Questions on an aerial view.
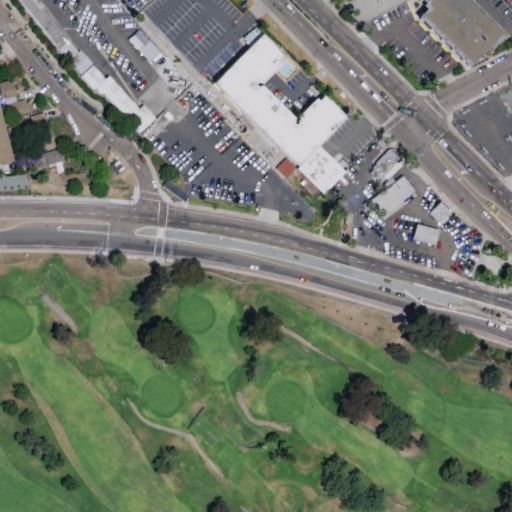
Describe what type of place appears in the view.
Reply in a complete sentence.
The picture captures a golf course.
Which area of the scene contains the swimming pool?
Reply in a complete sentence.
The swimming pool appears toward the top of the photo.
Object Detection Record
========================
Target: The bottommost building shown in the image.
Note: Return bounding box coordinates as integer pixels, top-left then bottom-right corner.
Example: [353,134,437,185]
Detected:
[414,224,441,246]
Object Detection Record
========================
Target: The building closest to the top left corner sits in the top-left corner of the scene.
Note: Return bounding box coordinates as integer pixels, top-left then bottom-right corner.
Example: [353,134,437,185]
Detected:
[20,0,72,52]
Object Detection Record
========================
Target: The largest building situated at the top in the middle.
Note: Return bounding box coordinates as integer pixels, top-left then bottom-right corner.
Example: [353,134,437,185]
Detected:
[216,34,350,167]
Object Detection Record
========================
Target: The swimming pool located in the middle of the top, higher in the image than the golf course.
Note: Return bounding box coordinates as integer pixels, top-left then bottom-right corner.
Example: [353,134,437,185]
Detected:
[277,58,299,81]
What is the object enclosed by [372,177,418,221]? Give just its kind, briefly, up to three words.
building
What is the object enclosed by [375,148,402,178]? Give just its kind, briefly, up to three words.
building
